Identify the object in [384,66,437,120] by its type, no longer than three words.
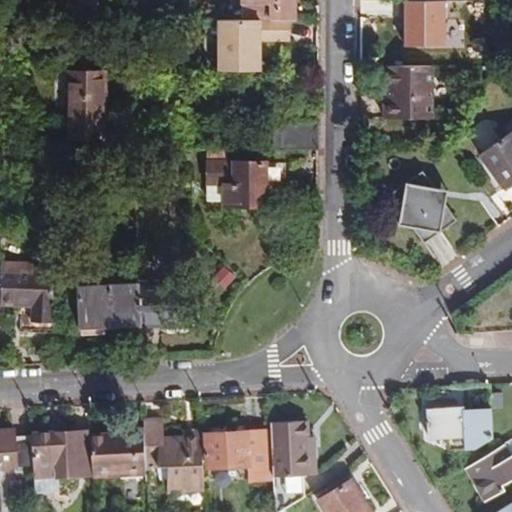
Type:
house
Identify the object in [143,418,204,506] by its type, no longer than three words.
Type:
house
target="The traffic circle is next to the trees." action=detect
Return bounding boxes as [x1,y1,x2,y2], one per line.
[254,250,464,412]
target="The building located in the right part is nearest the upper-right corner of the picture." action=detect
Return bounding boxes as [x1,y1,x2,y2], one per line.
[403,0,448,47]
